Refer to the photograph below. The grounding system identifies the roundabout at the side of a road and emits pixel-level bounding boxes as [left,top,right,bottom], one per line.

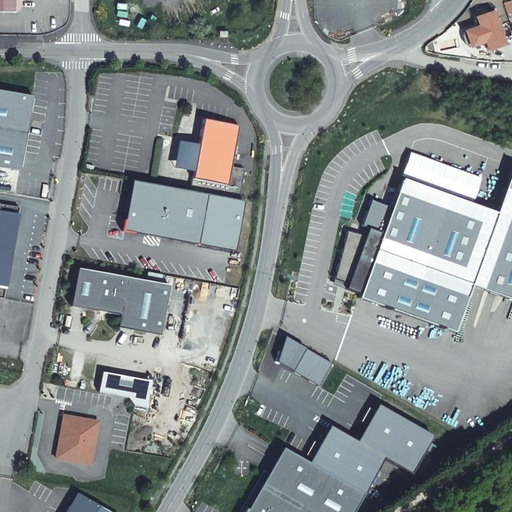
[252,37,345,130]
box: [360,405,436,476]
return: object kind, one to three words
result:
building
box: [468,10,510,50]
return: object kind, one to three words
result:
house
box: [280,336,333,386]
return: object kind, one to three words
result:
shed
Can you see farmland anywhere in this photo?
No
